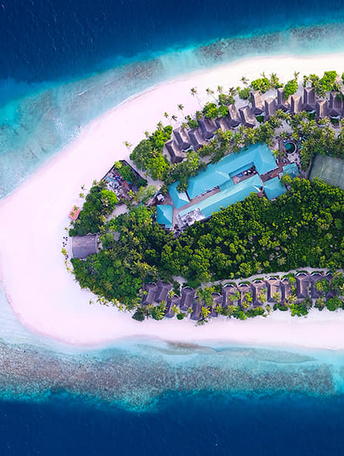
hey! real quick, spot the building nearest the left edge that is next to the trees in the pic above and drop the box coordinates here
[70,234,98,257]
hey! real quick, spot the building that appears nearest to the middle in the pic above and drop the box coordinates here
[157,205,173,227]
